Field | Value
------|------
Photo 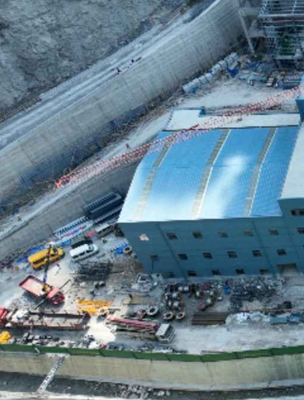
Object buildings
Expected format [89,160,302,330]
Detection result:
[231,0,304,67]
[111,79,304,283]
